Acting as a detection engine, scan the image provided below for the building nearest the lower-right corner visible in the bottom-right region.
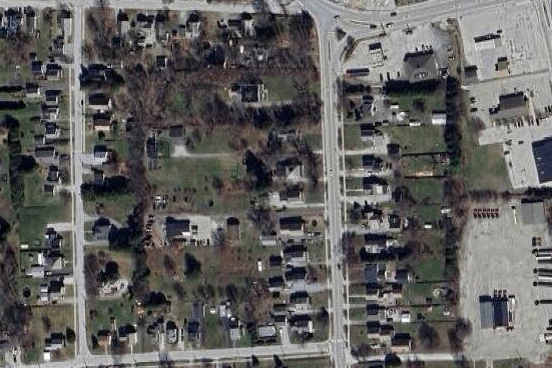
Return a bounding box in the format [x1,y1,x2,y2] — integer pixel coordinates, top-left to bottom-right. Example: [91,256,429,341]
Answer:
[480,296,509,328]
